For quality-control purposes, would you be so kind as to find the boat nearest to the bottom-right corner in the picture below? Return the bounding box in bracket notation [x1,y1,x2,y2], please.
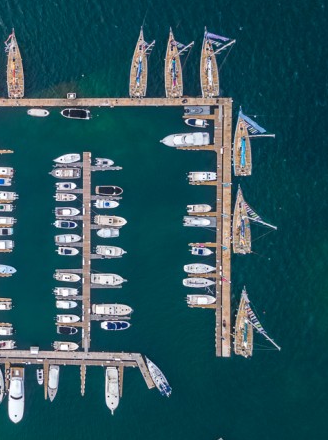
[231,288,275,359]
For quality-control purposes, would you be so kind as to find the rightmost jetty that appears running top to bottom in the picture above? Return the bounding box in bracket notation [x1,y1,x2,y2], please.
[176,105,231,357]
